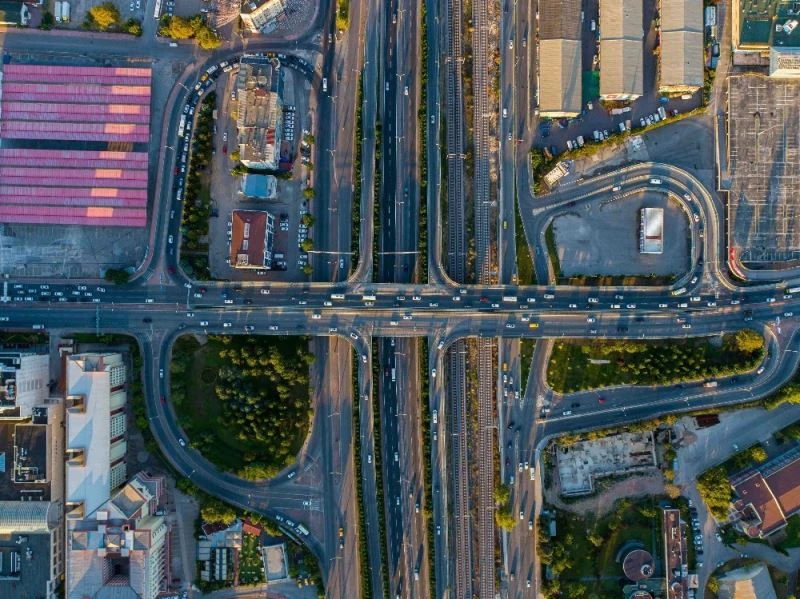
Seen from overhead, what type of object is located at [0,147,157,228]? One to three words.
building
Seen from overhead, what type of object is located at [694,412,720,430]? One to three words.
shed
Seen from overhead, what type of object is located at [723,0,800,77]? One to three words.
building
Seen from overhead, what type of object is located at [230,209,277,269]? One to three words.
house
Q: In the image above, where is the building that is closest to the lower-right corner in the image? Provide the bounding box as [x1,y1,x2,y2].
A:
[715,560,775,599]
